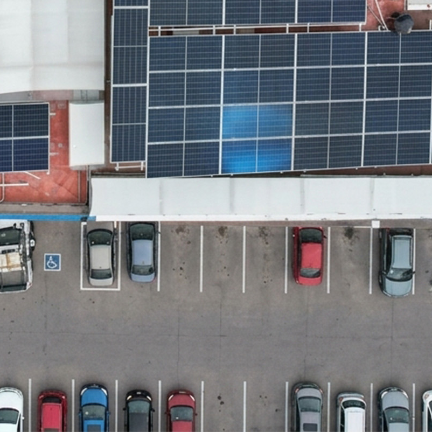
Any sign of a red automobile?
Yes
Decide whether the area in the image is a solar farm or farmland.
solar farm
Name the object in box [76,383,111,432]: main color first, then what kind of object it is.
blue car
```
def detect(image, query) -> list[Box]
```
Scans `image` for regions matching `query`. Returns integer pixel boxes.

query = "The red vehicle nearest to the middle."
[289,222,327,284]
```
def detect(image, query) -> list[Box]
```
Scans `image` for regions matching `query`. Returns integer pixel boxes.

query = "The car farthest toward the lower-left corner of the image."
[0,385,25,432]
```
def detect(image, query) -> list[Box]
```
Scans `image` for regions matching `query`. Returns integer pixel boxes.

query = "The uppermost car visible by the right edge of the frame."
[377,222,417,295]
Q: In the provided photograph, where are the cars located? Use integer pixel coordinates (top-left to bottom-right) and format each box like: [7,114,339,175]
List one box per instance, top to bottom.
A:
[84,222,118,284]
[125,222,158,282]
[289,222,327,284]
[377,222,417,295]
[288,382,322,432]
[76,383,111,432]
[0,385,25,432]
[374,385,413,432]
[121,388,156,432]
[164,388,199,432]
[36,389,68,432]
[331,392,369,432]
